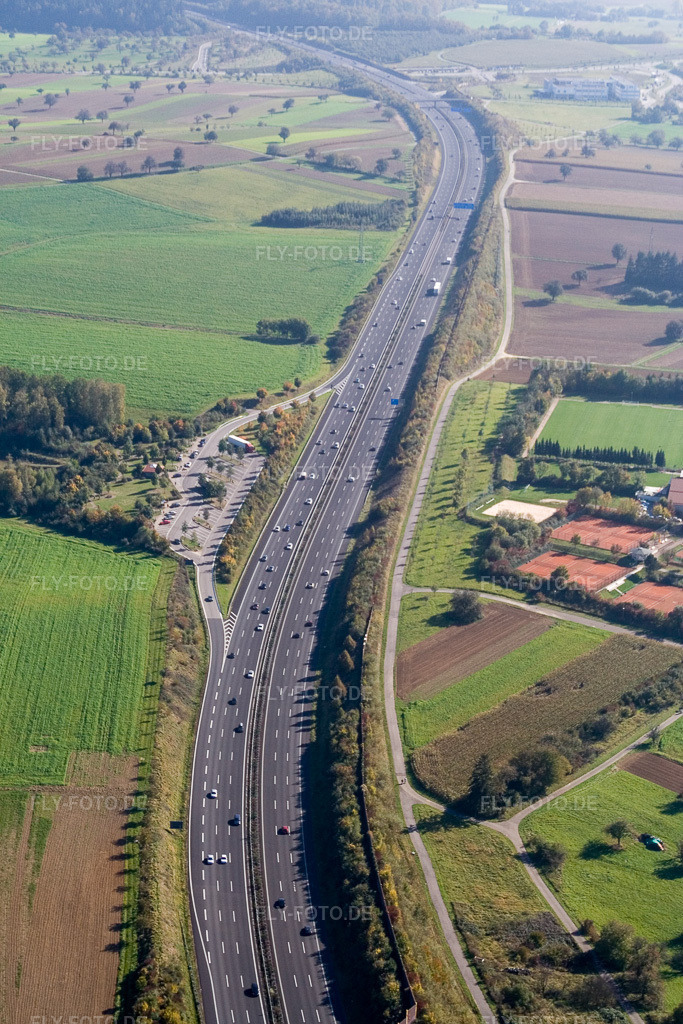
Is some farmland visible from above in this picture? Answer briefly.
Yes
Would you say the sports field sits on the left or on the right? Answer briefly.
right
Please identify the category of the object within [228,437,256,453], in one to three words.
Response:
vehicle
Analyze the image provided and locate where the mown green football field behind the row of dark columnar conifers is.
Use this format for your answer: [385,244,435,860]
[530,397,683,463]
